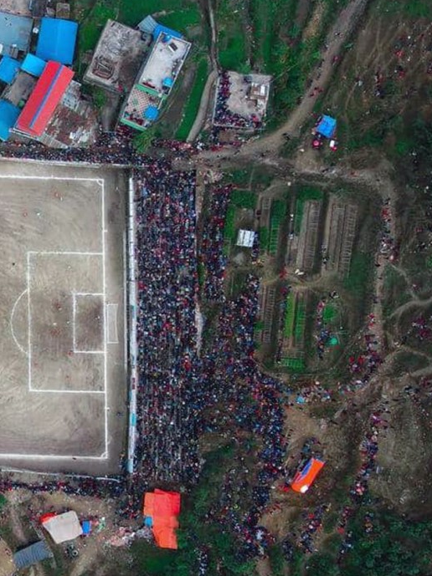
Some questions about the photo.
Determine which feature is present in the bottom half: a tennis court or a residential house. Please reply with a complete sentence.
Looking in the bottom half, you will find a residential house.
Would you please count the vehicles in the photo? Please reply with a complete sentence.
There are no vehicles in the image.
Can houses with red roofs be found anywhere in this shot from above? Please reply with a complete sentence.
Yes, a house with a red roof appears in the view.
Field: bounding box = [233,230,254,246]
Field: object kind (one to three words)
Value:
shed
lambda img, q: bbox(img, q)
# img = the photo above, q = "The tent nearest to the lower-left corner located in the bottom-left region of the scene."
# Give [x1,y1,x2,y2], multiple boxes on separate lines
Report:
[44,510,82,544]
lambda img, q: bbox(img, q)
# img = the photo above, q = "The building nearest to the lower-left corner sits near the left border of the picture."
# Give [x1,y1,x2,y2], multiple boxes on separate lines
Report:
[13,538,49,569]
